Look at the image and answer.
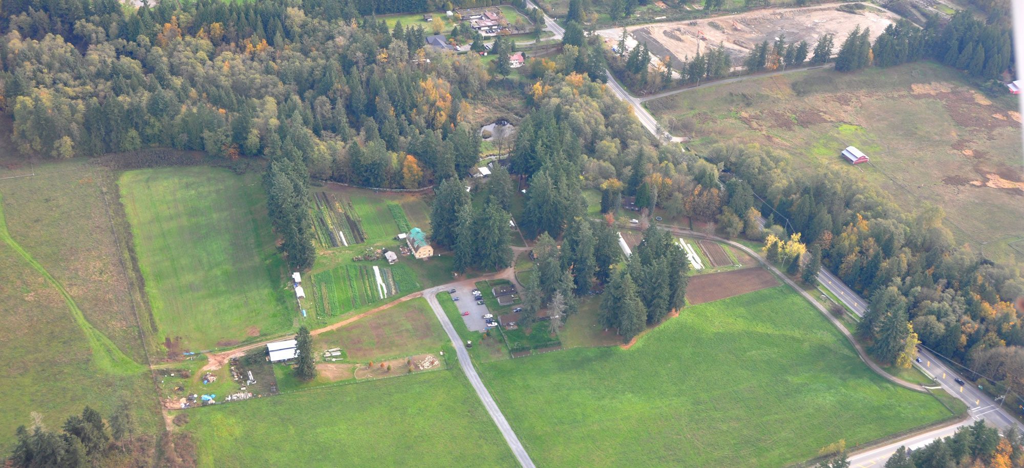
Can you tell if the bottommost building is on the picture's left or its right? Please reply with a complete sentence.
The bottommost building is on the left side of the image.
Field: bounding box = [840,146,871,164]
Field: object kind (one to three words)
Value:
barn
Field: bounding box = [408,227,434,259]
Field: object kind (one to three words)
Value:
barn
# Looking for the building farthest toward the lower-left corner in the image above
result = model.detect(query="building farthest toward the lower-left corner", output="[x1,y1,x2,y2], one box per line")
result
[266,337,301,364]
